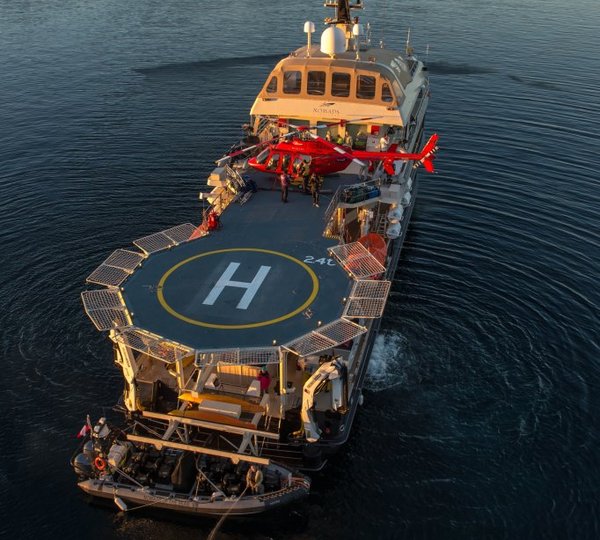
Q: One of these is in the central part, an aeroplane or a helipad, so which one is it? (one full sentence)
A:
What appears in the central part is a helipad.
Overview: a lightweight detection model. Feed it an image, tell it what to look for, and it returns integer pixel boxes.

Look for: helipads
[80,166,394,411]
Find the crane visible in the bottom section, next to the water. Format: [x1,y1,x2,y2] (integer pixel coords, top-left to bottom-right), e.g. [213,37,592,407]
[284,347,351,436]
